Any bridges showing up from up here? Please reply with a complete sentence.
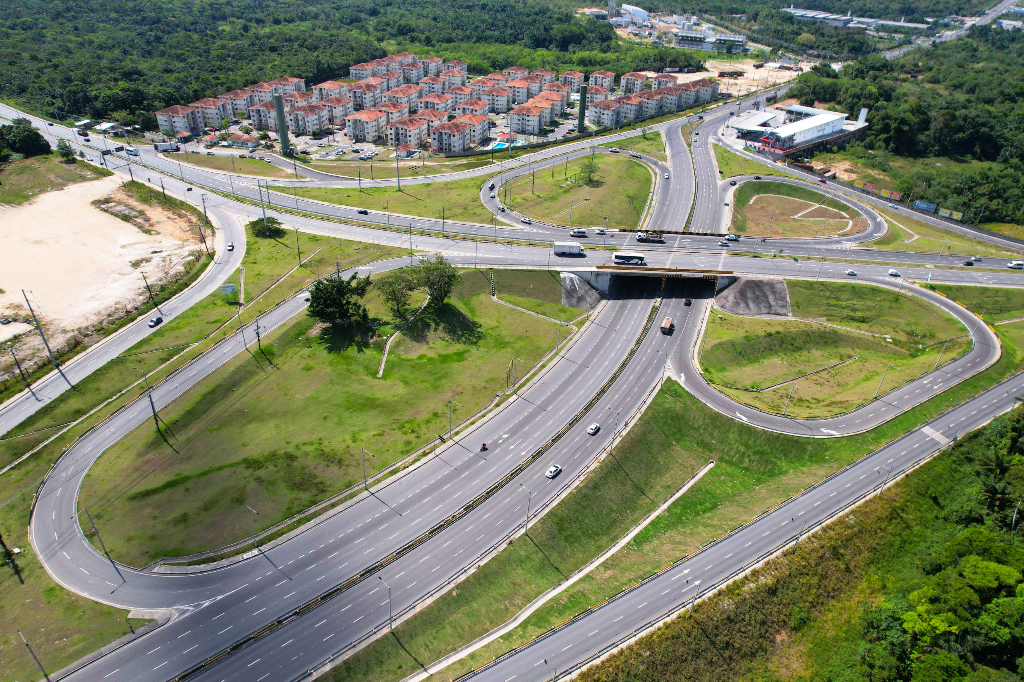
Yes, the image includes a bridge.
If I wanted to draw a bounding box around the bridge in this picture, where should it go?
[554,229,791,316]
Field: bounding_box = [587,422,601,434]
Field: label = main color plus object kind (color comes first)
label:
white vehicle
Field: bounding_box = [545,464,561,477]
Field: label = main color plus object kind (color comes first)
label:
white vehicle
